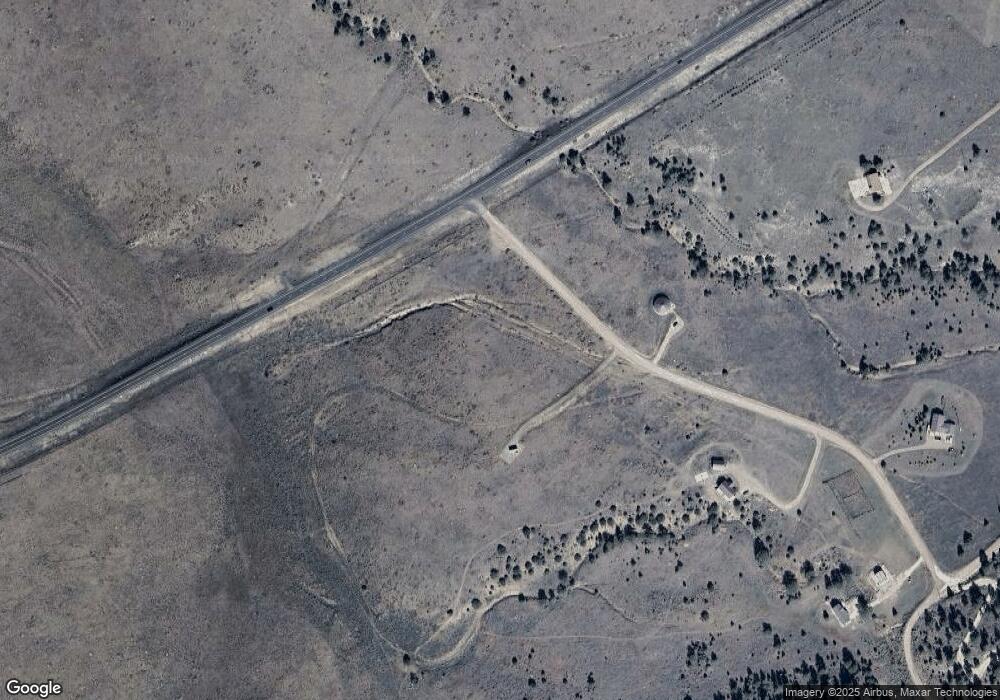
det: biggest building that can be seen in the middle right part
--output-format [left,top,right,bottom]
[932,413,956,433]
